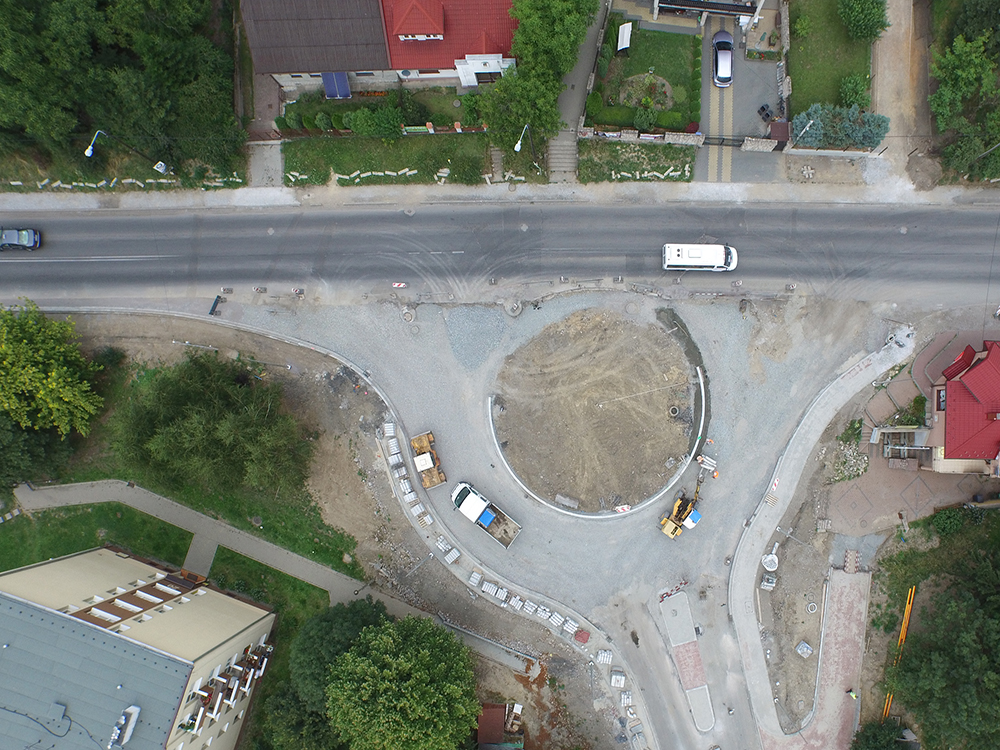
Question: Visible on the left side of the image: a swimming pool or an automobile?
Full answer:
The feature located on the left side of the image is an automobile.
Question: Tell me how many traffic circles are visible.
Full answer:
The photo contains exactly 1 traffic circle.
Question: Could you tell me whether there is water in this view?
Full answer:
No, the scene doesn't show any water.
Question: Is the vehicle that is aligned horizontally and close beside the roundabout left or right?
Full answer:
You can find the vehicle that is aligned horizontally and close beside the roundabout on the right side of the picture.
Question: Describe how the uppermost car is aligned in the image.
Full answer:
Seen from above, the uppermost car lies up and down.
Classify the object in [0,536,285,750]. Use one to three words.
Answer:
building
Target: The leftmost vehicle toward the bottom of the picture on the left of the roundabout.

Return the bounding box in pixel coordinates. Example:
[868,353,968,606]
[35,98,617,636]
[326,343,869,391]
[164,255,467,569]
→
[408,431,451,491]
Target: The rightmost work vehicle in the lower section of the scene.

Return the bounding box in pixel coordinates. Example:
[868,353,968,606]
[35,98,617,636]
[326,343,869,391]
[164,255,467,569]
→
[652,456,701,545]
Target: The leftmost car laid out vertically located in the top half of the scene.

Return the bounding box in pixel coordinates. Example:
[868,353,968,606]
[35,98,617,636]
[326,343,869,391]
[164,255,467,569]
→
[709,30,737,88]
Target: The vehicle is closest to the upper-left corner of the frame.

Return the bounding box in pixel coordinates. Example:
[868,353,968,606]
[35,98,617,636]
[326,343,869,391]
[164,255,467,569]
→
[0,229,44,255]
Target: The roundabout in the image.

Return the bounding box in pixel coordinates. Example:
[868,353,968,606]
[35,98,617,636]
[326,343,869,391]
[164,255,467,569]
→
[487,307,712,521]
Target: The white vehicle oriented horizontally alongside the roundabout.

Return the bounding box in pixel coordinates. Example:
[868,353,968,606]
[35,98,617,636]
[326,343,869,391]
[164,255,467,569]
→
[660,240,741,273]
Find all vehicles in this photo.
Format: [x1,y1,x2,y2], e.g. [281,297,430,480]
[451,480,522,551]
[660,240,741,273]
[709,30,737,88]
[652,456,701,545]
[0,229,44,255]
[408,431,451,491]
